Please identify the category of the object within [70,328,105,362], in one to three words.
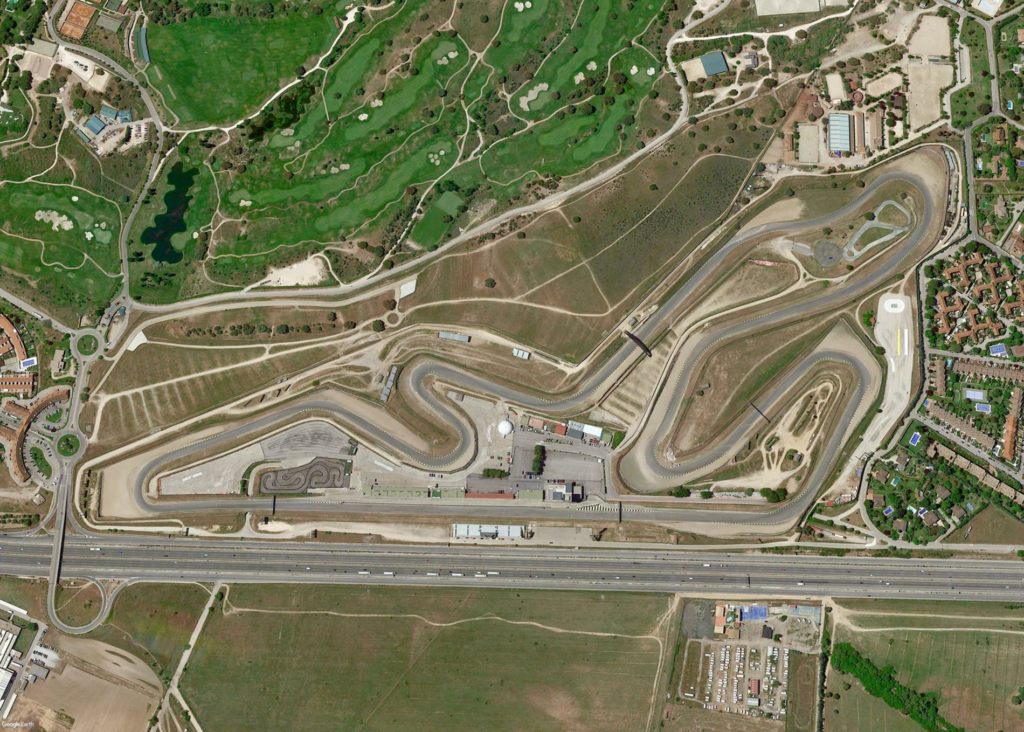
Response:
roundabout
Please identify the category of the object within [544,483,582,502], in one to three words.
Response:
building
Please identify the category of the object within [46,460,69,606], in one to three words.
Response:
overpass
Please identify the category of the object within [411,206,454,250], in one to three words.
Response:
sports field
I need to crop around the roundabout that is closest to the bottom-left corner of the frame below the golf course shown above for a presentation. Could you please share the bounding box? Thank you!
[56,428,86,462]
